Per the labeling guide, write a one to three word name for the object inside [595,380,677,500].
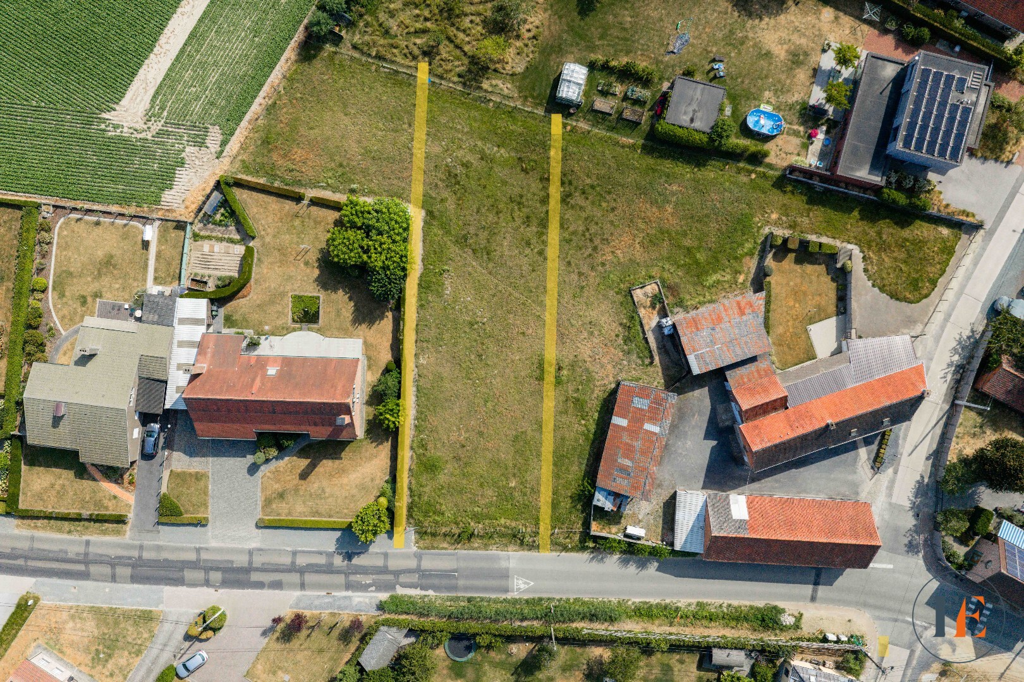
shed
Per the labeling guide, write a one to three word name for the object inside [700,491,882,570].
barn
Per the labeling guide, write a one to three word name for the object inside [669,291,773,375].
shed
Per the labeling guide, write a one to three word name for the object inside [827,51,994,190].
house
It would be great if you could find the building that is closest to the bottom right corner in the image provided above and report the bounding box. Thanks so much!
[952,520,1024,613]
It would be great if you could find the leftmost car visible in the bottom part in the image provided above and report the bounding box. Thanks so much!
[143,421,163,455]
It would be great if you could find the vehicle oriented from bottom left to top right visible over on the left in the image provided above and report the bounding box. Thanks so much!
[177,650,211,677]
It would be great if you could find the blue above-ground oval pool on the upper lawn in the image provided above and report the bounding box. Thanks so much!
[743,108,785,138]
